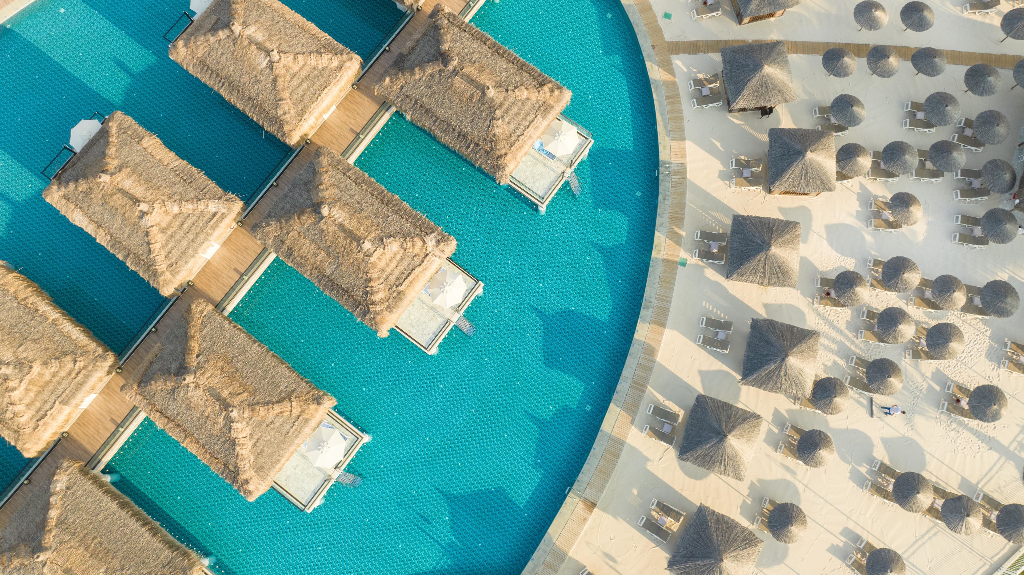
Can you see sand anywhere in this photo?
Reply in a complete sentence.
Yes, there is sand in the image.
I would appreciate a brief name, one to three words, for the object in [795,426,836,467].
umbrella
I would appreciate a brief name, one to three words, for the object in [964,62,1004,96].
umbrella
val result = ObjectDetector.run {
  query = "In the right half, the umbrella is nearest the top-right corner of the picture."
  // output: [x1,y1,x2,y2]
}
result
[1001,5,1024,38]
